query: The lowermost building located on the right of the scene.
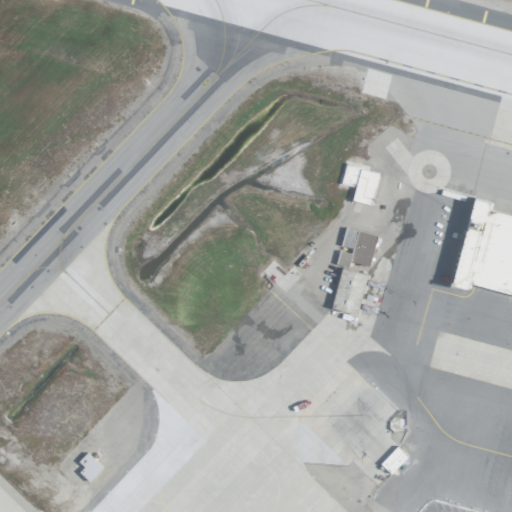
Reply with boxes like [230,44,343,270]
[382,446,410,474]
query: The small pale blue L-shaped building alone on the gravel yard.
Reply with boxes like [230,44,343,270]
[80,452,106,482]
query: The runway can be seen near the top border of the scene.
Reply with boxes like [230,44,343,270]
[160,0,512,100]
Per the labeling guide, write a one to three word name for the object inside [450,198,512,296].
hangar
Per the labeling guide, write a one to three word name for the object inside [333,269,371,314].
building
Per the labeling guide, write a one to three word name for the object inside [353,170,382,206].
building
